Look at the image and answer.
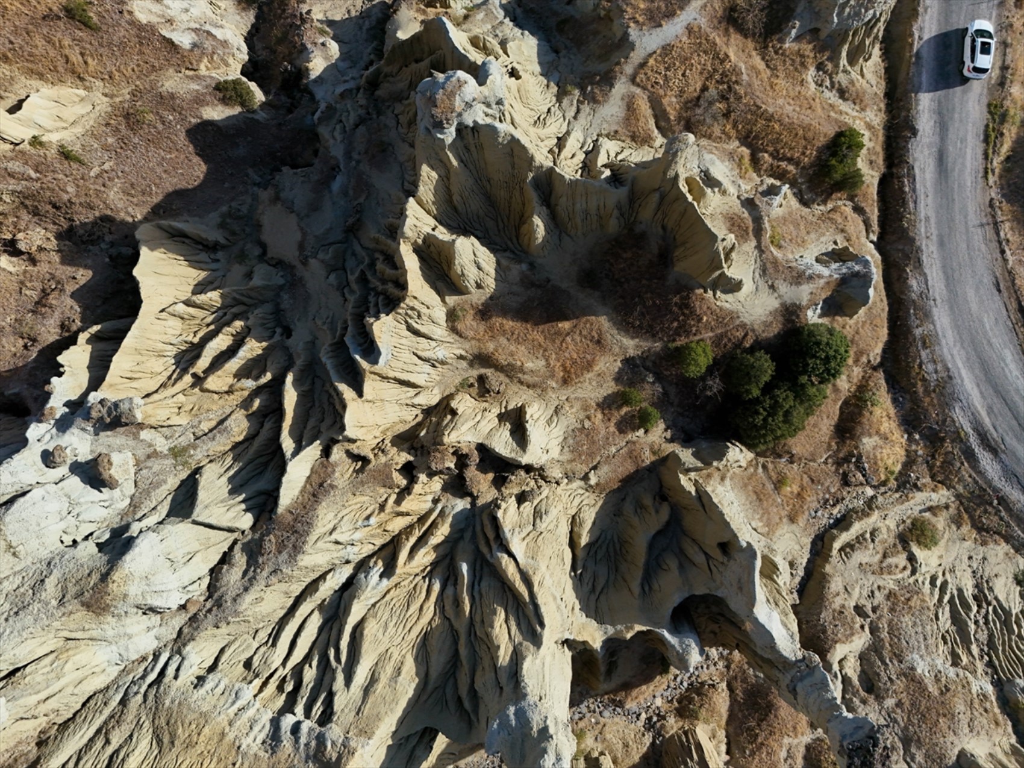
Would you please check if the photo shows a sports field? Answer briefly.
No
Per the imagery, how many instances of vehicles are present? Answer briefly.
one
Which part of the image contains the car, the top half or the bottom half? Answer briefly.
top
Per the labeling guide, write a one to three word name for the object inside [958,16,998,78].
car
